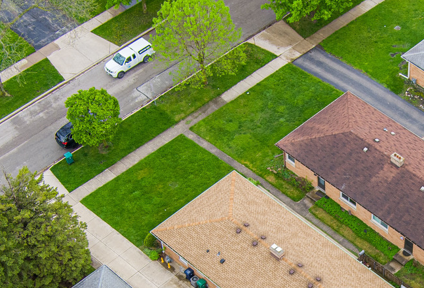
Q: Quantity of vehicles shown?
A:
2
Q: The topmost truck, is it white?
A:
Yes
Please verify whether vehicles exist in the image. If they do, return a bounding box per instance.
[54,119,81,148]
[100,35,157,79]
